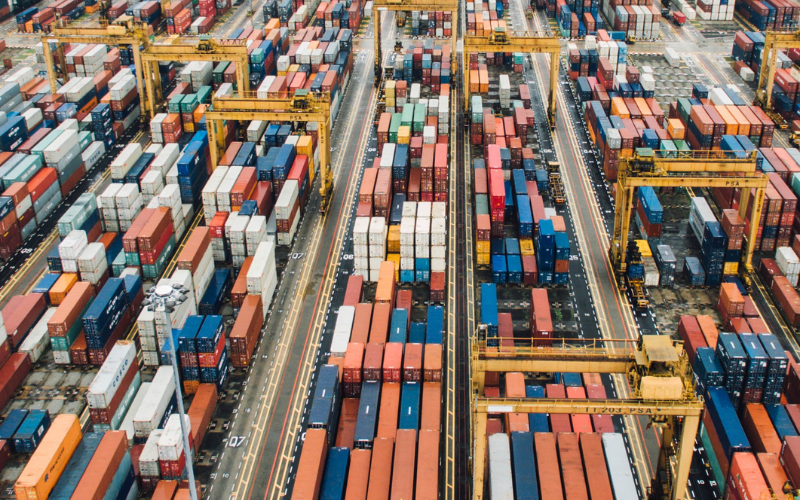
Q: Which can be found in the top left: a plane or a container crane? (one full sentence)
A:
What appears in the top left is a container crane.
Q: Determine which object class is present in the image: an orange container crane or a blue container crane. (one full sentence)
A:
It is an orange container crane that can be seen here.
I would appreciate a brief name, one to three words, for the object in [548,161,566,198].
vehicle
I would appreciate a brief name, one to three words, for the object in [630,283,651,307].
vehicle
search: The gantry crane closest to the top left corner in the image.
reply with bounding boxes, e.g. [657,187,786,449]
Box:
[42,20,160,122]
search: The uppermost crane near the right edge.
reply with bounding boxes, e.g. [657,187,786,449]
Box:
[749,25,800,115]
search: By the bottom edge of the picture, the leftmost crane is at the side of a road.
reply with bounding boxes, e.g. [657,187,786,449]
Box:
[465,334,705,500]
